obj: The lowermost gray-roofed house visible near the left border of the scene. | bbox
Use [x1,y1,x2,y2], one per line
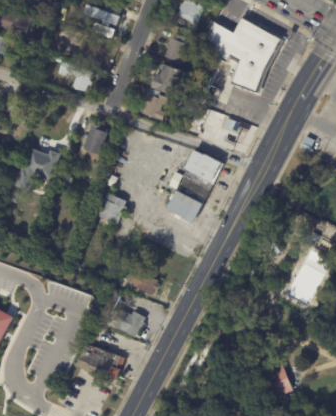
[16,150,58,190]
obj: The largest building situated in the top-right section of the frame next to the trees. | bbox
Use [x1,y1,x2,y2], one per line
[208,20,283,91]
